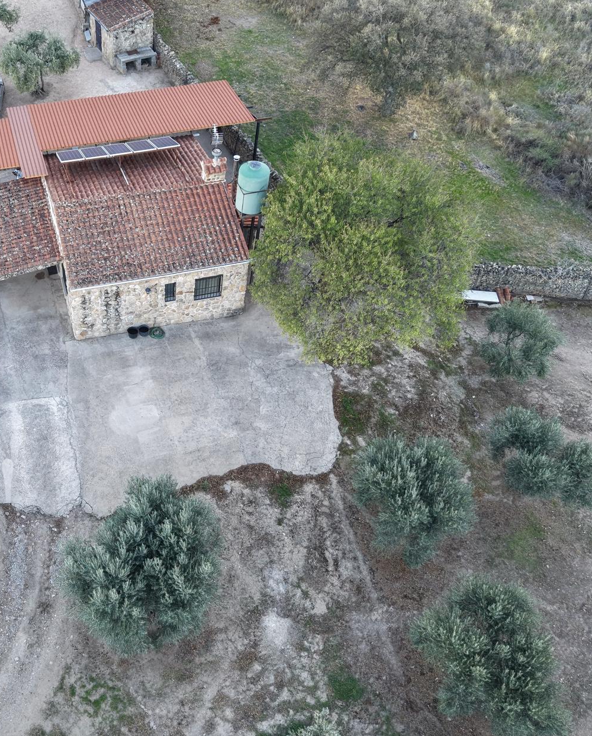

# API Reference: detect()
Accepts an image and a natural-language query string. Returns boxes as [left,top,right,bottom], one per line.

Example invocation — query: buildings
[82,0,159,66]
[41,132,262,339]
